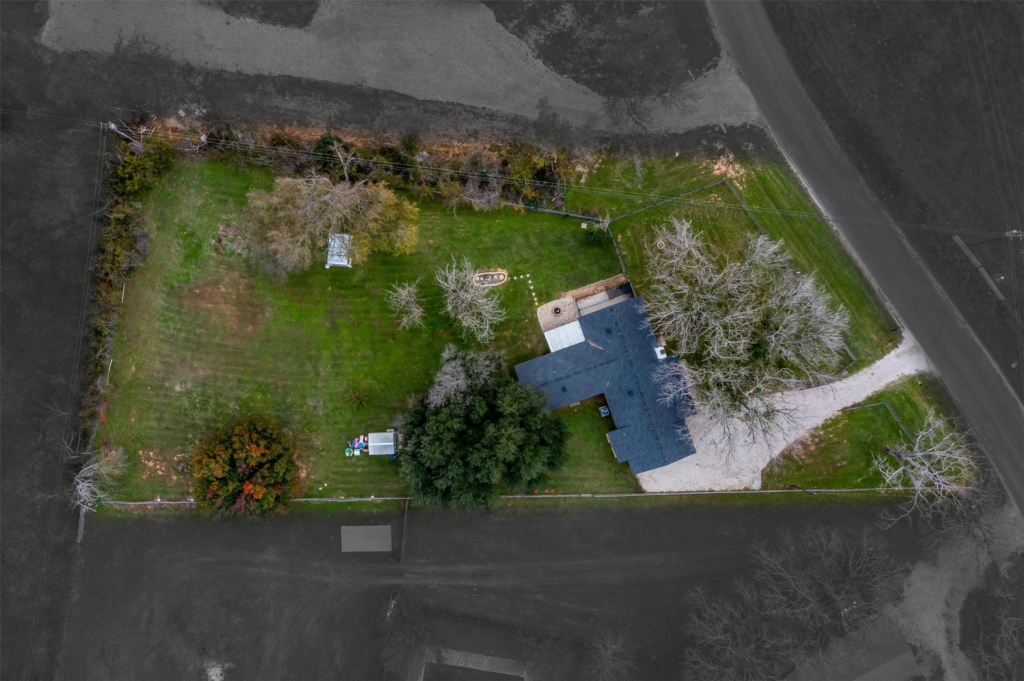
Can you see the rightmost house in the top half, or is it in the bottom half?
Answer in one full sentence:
Seen from above, the rightmost house lies in the bottom half of the view.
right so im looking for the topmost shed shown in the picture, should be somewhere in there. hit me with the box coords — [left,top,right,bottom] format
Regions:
[328,235,358,274]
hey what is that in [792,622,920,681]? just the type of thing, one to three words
house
